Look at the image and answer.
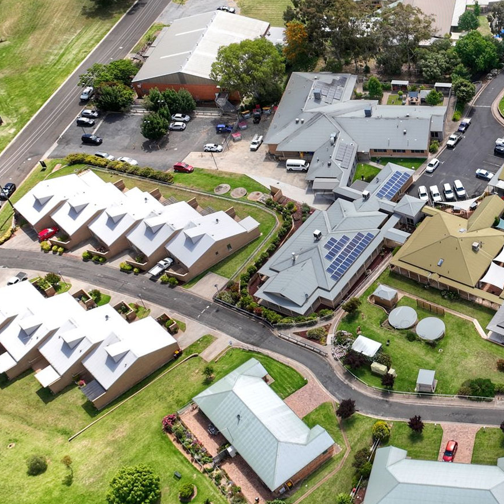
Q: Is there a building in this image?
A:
Yes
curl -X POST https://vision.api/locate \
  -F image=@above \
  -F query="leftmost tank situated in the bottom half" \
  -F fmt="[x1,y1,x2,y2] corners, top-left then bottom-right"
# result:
[388,307,417,333]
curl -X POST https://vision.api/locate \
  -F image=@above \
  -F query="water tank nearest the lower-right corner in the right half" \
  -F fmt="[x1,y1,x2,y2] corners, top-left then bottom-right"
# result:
[416,317,445,343]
